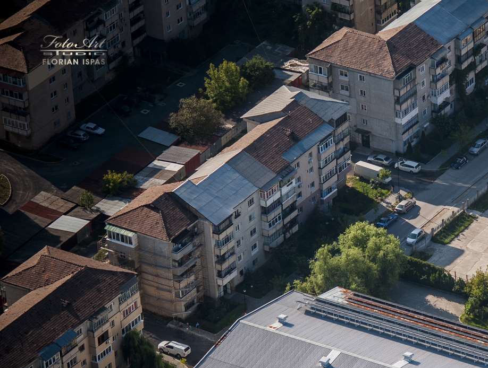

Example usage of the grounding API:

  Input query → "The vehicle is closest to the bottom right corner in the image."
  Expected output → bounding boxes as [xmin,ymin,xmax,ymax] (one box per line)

[405,225,427,244]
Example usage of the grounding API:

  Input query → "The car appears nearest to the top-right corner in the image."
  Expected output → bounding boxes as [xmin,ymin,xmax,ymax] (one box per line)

[468,137,488,153]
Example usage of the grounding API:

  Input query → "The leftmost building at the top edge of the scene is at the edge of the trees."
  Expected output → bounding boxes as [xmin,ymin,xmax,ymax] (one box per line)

[0,0,242,143]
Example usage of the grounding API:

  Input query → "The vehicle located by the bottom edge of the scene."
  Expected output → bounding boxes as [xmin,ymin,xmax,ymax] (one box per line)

[158,340,191,357]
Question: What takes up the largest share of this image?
buildings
